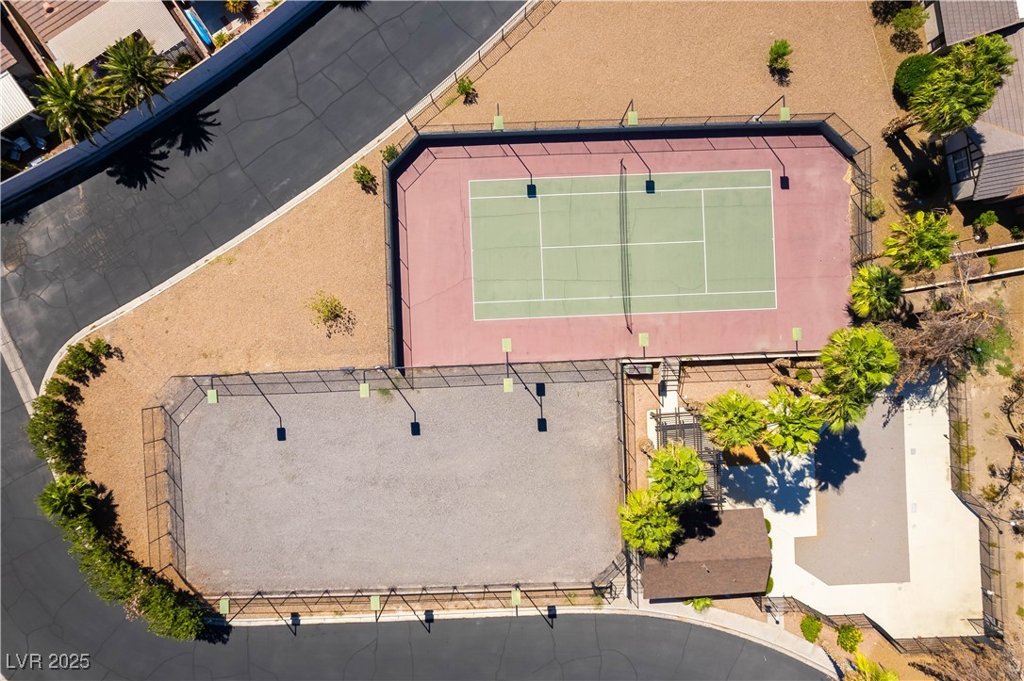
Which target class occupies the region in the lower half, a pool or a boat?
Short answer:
pool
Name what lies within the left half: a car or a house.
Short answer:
house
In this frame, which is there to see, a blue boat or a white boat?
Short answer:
blue boat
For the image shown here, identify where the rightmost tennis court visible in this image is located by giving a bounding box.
[392,126,853,369]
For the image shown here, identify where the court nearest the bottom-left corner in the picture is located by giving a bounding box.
[163,363,620,595]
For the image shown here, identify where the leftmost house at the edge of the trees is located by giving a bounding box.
[0,39,51,144]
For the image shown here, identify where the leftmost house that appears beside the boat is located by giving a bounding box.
[11,0,199,83]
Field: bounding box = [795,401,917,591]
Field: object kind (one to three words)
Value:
swimming pool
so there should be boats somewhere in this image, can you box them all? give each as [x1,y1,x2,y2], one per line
[187,8,212,45]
